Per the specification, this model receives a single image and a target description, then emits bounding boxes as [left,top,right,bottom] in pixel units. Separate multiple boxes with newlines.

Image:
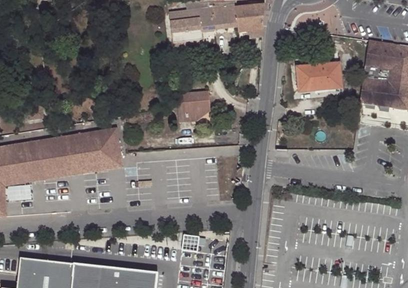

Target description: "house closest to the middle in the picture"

[178,90,211,122]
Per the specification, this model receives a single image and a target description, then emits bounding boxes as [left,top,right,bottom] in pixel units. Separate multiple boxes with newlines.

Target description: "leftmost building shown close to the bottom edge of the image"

[16,258,72,288]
